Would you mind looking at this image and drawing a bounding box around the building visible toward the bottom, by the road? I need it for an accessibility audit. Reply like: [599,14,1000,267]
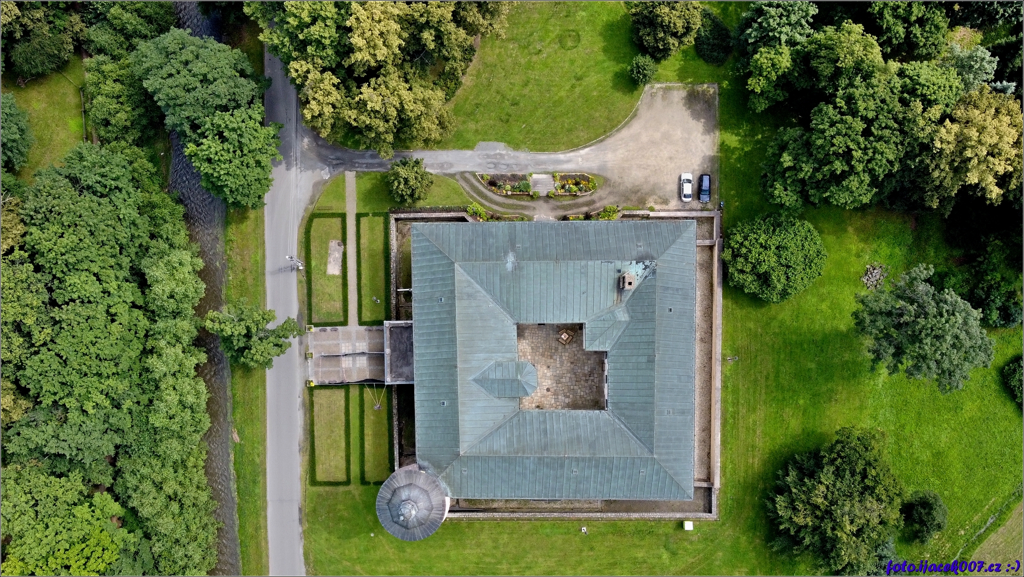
[376,220,696,540]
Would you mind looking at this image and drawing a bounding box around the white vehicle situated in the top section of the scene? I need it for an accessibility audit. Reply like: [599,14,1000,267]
[681,171,695,202]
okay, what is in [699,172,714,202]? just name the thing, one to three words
car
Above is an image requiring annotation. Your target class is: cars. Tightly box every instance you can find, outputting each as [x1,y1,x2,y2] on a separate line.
[681,171,695,202]
[699,172,714,202]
